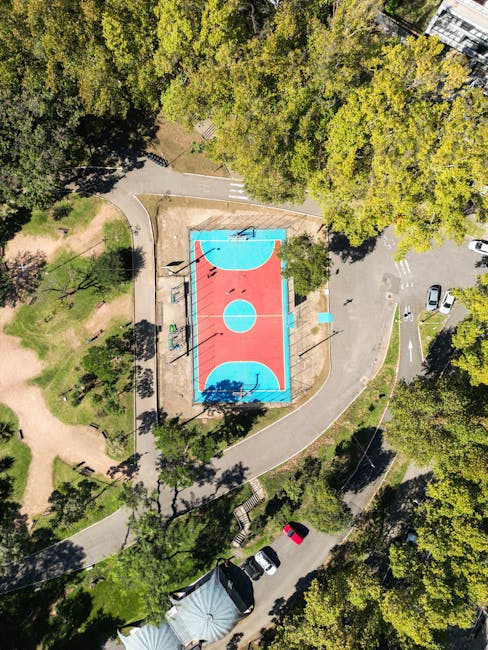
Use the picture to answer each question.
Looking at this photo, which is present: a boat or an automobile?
automobile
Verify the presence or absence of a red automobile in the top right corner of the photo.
No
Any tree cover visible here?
Yes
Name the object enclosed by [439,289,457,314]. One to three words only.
car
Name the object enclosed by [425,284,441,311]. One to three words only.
car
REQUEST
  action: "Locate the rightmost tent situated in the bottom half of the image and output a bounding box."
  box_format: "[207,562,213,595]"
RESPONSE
[170,548,244,646]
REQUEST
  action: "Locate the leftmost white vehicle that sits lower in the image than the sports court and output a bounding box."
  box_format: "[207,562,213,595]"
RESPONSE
[256,551,275,574]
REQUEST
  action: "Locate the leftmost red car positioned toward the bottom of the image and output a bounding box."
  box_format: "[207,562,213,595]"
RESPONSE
[283,524,303,545]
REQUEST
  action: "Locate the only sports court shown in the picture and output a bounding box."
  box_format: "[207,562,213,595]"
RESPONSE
[191,229,289,402]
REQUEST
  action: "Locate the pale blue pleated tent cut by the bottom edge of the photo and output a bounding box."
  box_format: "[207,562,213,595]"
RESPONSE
[117,607,185,650]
